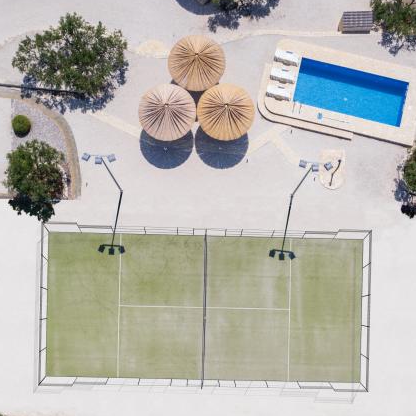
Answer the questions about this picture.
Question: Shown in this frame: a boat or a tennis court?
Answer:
tennis court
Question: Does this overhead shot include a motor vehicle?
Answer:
No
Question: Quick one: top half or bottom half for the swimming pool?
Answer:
top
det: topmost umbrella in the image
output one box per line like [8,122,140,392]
[168,35,225,94]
